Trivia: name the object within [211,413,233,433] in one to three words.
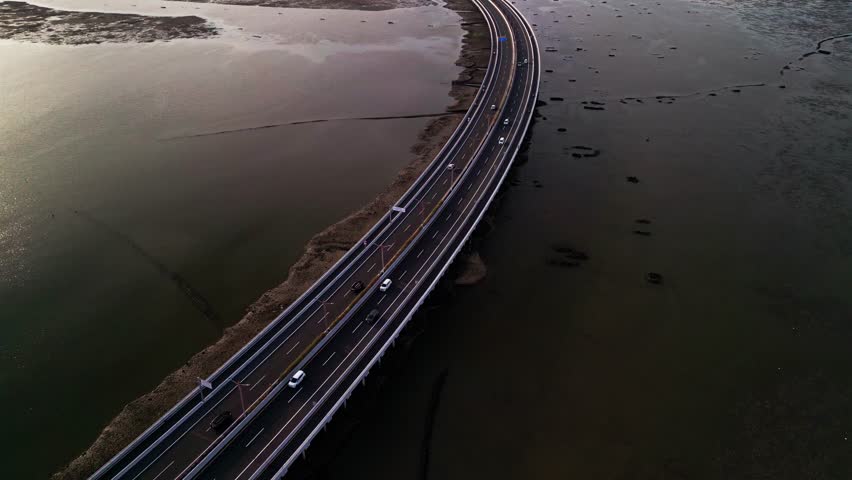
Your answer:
car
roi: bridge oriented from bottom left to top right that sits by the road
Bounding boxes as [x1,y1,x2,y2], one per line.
[89,0,542,480]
